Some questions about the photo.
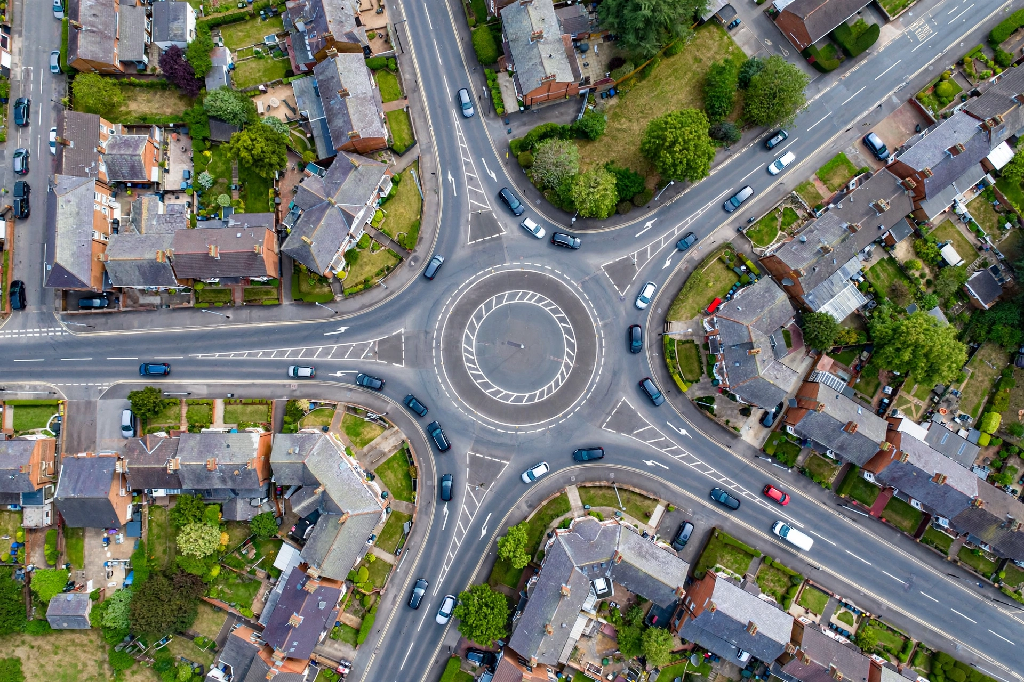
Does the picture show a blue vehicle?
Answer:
Yes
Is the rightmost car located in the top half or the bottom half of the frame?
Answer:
top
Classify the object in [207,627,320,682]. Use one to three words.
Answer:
house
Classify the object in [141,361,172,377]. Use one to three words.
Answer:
car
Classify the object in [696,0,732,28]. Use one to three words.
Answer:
building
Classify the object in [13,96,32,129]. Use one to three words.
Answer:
car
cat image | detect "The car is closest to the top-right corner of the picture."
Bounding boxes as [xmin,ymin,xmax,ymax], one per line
[862,130,887,161]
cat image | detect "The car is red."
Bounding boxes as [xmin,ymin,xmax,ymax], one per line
[759,482,790,506]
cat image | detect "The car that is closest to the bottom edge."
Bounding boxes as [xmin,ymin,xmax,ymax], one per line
[465,648,495,667]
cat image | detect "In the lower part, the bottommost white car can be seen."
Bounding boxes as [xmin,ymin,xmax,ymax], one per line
[436,592,456,624]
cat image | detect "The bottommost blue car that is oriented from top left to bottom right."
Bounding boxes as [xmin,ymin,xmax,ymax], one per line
[708,485,743,512]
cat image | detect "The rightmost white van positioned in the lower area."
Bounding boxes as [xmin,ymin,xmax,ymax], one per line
[772,520,816,552]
